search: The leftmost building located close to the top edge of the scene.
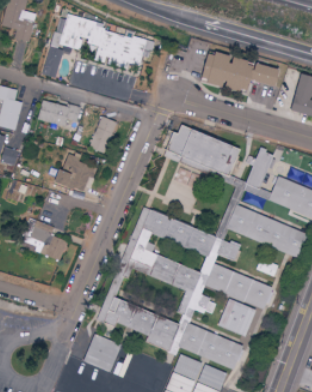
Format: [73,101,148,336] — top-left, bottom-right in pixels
[2,0,36,42]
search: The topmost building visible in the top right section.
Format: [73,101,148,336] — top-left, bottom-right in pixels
[202,52,278,90]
